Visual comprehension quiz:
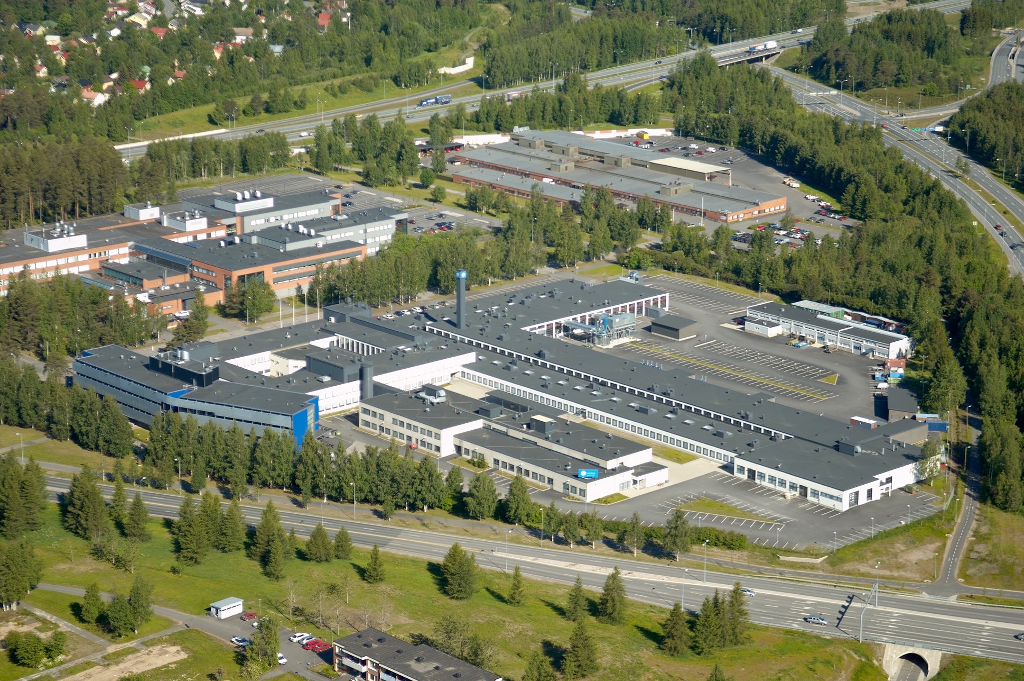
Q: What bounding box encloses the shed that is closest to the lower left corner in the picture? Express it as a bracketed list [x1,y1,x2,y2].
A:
[209,595,242,619]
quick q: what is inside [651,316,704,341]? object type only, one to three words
building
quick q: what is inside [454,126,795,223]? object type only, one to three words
building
